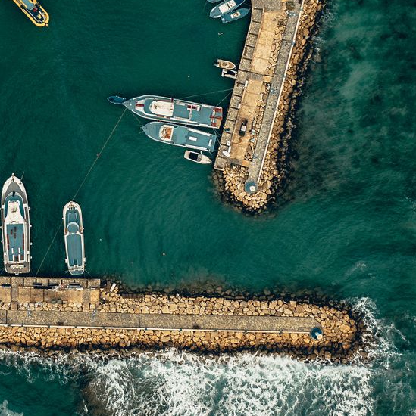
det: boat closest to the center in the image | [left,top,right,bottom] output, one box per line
[182,150,211,163]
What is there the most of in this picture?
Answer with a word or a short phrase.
water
